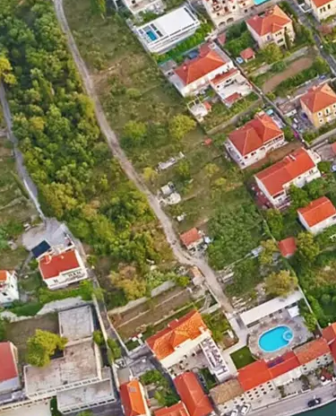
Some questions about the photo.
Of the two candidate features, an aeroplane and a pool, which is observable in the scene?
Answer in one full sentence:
I can see a pool in this picture.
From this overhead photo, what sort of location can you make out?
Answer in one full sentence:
This looks like a residential area.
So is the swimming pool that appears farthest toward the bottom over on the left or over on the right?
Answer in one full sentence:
You can find the swimming pool that appears farthest toward the bottom on the right side of the picture.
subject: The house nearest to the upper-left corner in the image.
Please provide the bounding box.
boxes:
[114,0,166,25]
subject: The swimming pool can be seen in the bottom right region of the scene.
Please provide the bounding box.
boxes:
[256,325,294,352]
